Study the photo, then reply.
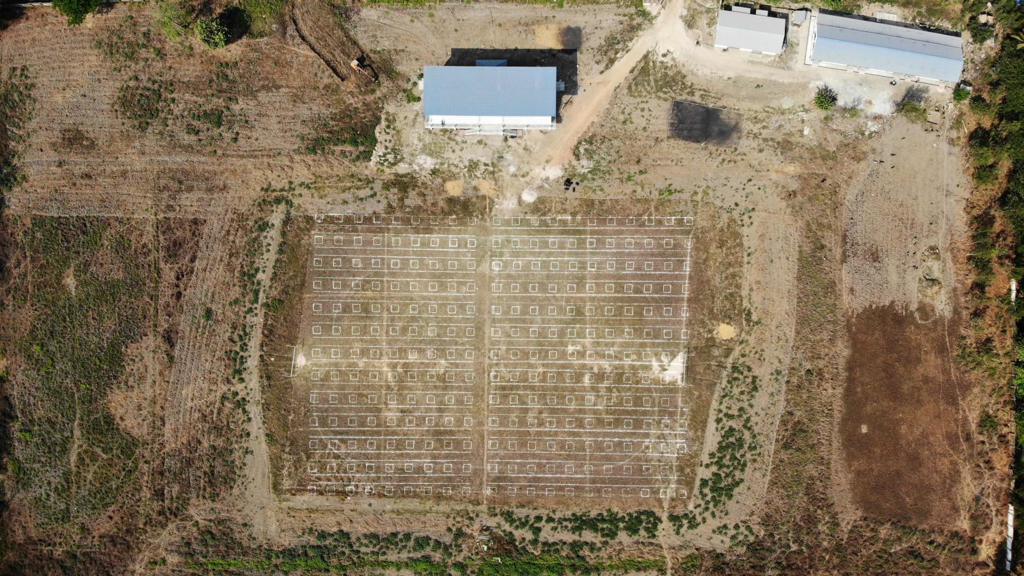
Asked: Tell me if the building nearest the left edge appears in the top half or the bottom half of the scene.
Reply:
top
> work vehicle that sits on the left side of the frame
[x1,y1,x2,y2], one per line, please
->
[350,59,372,80]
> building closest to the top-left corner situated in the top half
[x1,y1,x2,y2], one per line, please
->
[419,60,564,136]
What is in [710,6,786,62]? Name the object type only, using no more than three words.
building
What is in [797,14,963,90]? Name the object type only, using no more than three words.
building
